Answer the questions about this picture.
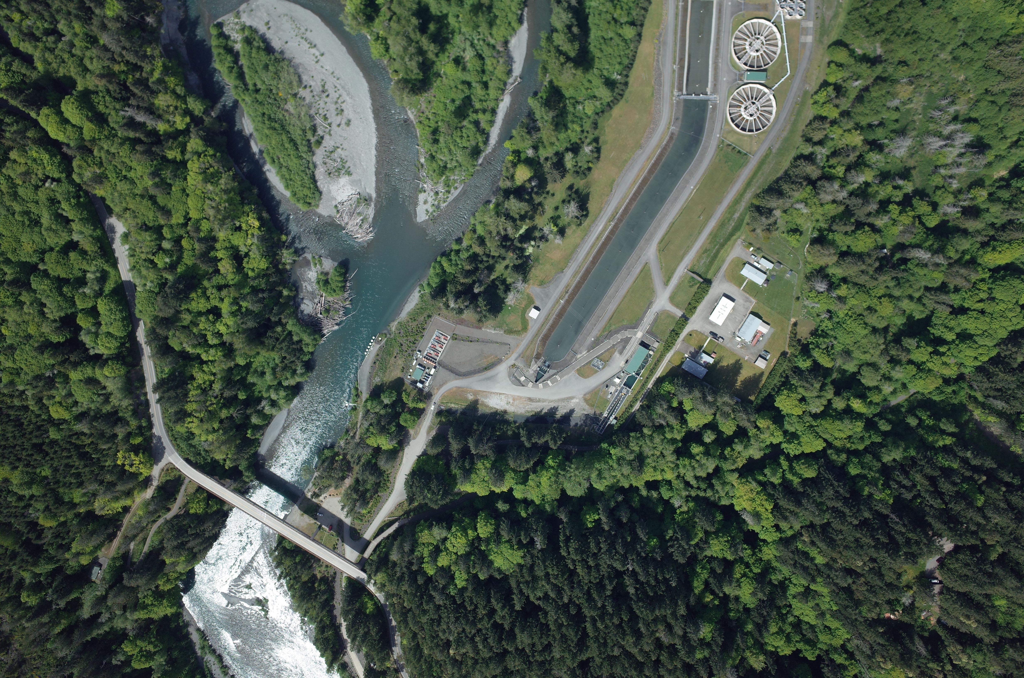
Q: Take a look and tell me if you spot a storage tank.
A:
Yes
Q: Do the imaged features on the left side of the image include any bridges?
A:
Yes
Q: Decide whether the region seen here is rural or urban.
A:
rural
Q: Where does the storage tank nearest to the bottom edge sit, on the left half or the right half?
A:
right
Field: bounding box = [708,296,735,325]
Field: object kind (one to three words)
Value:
building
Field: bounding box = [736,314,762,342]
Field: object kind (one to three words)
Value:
building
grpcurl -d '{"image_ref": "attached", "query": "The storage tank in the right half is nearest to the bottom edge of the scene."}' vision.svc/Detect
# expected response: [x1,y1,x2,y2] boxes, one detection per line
[726,84,777,135]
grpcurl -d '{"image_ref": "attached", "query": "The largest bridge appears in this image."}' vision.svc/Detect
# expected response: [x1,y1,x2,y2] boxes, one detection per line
[165,449,375,589]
